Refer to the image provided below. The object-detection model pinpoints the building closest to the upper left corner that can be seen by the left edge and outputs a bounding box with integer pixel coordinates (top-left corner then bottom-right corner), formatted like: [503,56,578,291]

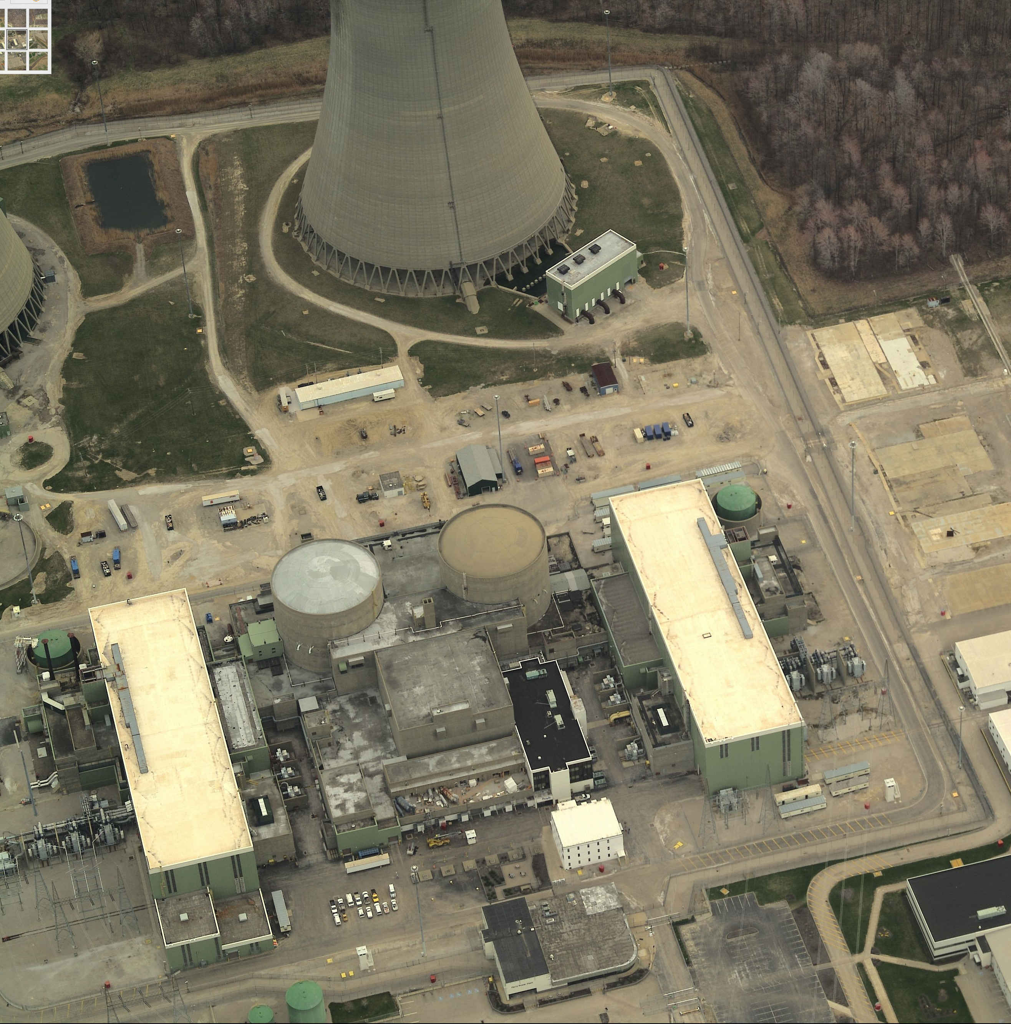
[34,264,62,288]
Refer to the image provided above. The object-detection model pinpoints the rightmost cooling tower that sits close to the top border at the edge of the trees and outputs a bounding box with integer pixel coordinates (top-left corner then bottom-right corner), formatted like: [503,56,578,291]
[293,0,578,297]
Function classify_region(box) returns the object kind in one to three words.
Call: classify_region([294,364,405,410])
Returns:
shed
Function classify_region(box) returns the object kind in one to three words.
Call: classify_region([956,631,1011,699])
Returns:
building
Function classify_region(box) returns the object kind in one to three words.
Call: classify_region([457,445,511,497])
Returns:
barn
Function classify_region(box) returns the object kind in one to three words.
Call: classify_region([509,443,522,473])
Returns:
vehicle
